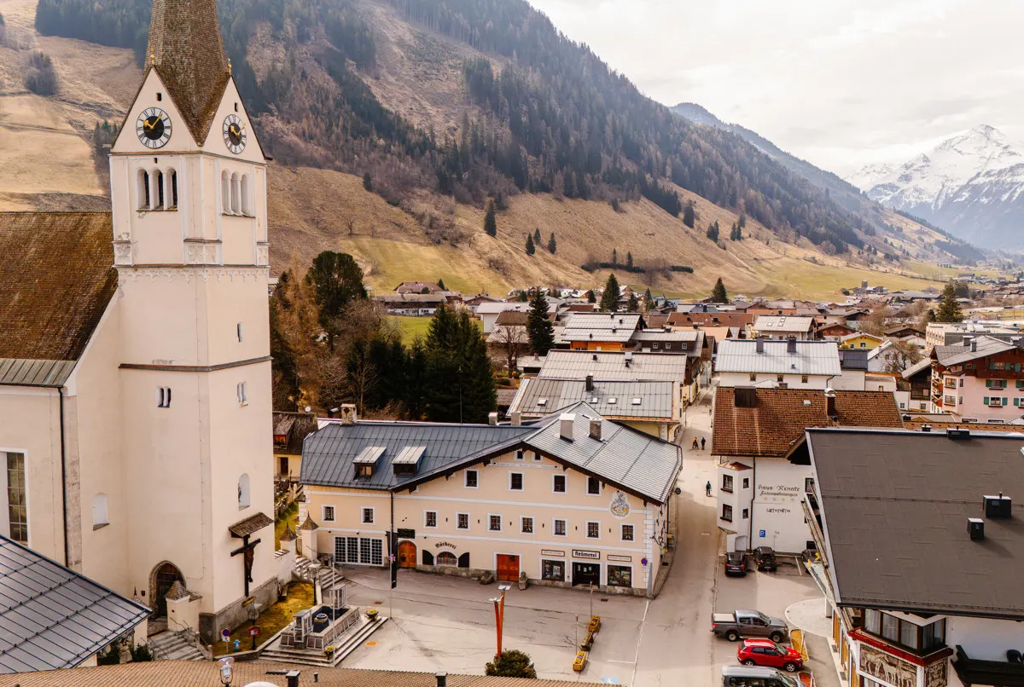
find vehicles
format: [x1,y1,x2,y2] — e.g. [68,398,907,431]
[717,668,784,687]
[737,635,804,673]
[715,610,793,643]
[725,551,750,575]
[754,547,778,571]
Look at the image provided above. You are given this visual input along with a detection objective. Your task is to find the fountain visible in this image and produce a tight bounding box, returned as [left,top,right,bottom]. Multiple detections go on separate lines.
[259,576,387,666]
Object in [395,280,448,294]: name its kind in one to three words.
house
